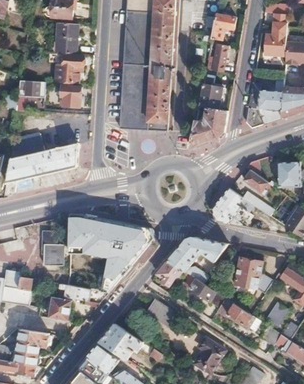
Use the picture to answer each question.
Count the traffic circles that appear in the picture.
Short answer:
one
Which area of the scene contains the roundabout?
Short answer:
center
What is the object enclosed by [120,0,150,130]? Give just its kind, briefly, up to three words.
building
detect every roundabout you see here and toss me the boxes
[128,156,224,226]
